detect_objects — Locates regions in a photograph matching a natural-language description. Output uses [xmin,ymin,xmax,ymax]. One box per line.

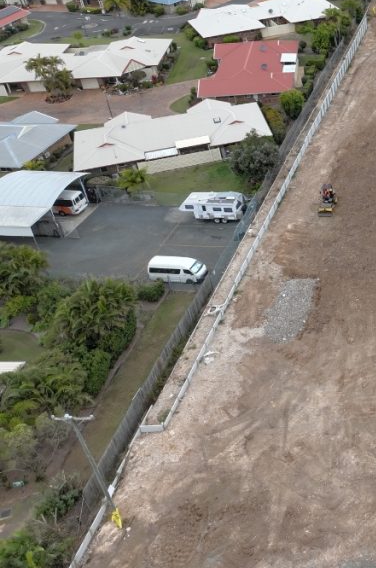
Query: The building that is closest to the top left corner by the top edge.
[0,4,30,32]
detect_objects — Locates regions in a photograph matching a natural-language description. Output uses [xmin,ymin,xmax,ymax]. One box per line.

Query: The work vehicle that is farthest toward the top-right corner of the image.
[312,185,338,214]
